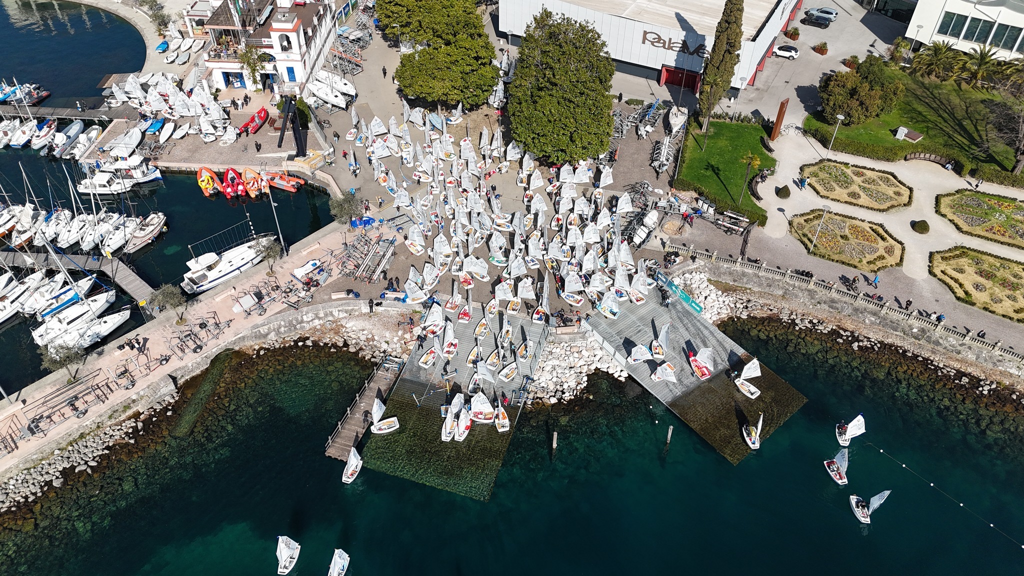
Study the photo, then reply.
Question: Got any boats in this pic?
Yes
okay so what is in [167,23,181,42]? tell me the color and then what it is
white boat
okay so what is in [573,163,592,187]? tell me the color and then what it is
white boat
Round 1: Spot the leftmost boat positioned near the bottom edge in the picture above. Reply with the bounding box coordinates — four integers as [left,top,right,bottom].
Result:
[277,536,303,576]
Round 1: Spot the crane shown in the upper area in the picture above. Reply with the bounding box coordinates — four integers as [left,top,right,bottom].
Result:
[278,80,317,161]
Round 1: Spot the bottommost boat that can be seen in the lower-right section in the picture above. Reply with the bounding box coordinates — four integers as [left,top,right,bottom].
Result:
[847,491,885,526]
